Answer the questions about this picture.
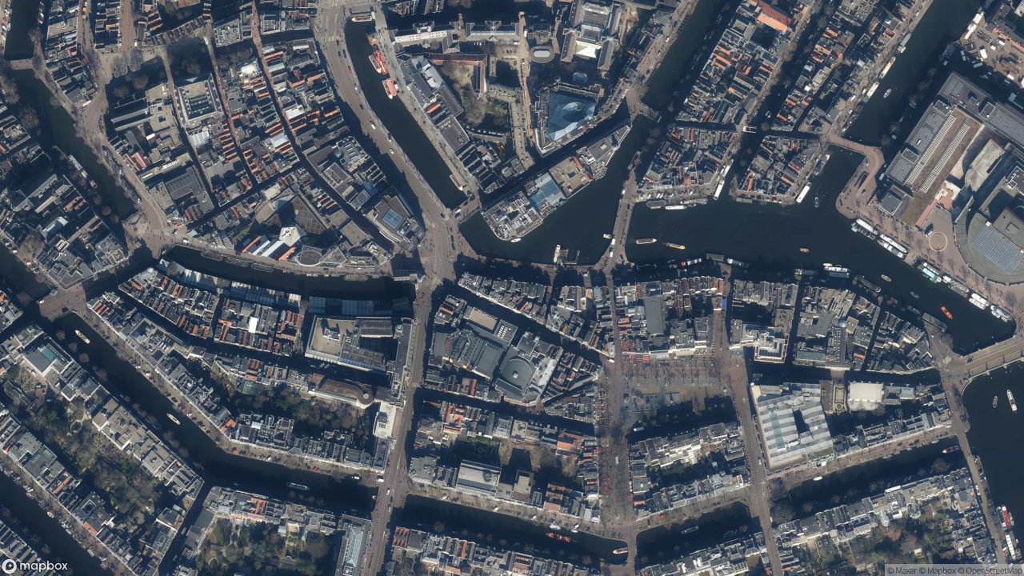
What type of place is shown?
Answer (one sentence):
What you see here is a residential area.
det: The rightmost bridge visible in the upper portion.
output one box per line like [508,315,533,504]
[827,133,883,159]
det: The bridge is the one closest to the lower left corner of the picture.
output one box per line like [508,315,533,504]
[35,292,74,323]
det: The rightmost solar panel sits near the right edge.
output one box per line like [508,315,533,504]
[973,226,1024,273]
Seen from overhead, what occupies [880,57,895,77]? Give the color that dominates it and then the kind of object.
white boat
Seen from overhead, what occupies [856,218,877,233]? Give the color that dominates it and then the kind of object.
white boat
